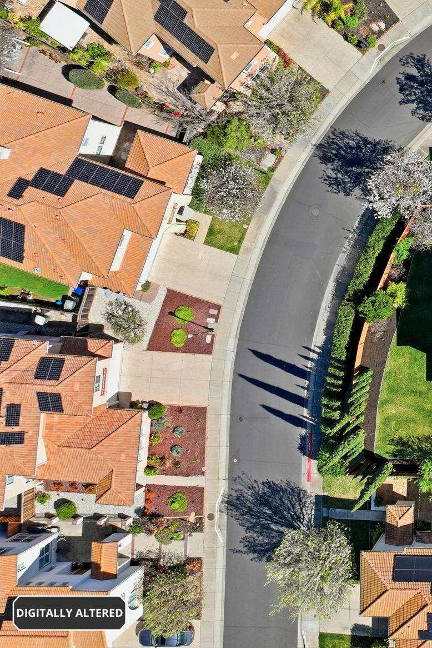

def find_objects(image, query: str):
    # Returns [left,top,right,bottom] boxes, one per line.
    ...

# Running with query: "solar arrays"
[0,218,23,263]
[32,357,64,380]
[152,0,213,63]
[0,339,13,361]
[392,557,432,582]
[7,157,142,199]
[82,0,112,23]
[34,392,62,413]
[419,615,432,641]
[0,432,24,445]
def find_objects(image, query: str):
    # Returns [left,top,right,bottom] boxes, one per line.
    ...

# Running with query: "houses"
[0,528,145,648]
[0,332,154,512]
[359,495,432,648]
[68,0,302,110]
[0,83,204,299]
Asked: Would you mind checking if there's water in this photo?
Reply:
No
